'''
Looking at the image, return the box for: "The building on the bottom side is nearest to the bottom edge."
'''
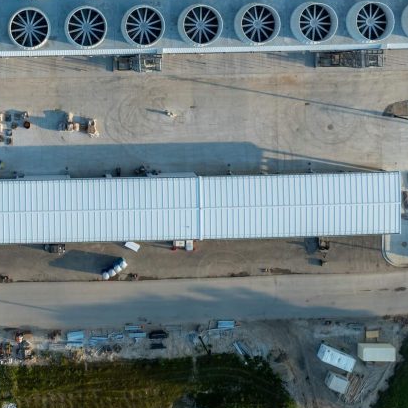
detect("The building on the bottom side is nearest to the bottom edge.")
[320,366,350,393]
